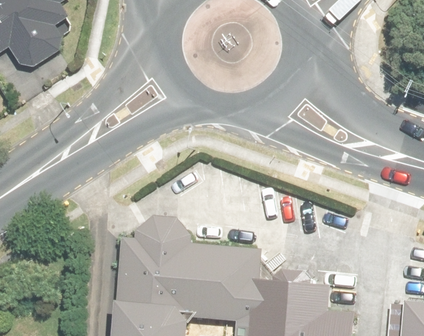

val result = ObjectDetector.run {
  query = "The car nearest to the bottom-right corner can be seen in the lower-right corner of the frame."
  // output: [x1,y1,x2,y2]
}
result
[404,281,424,294]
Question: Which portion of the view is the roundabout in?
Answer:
top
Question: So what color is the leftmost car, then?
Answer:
white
